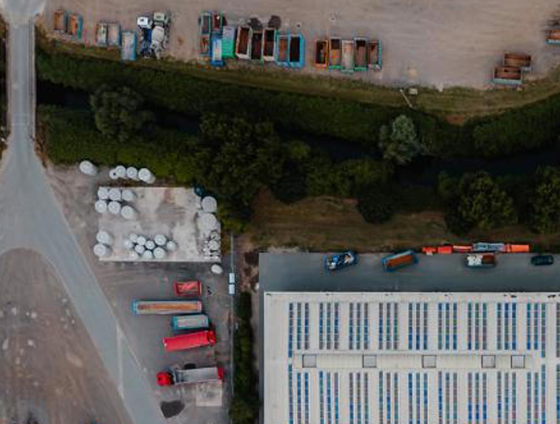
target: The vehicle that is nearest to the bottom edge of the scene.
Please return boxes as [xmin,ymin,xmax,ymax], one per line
[159,365,227,384]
